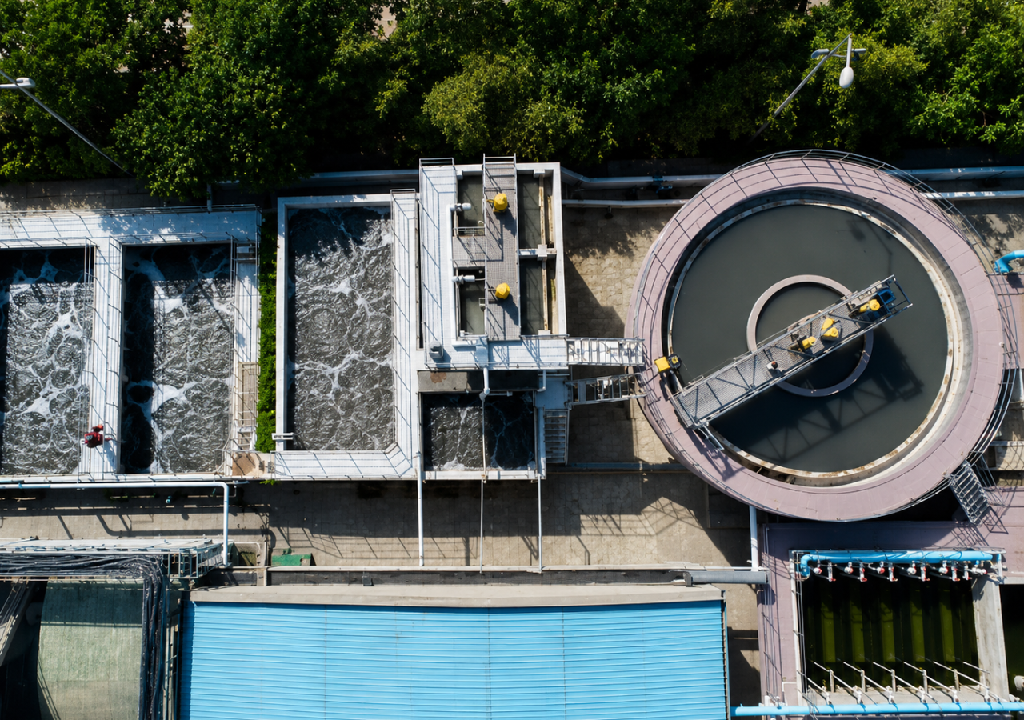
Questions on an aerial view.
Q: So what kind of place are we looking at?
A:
industrial area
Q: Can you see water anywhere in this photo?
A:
Yes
